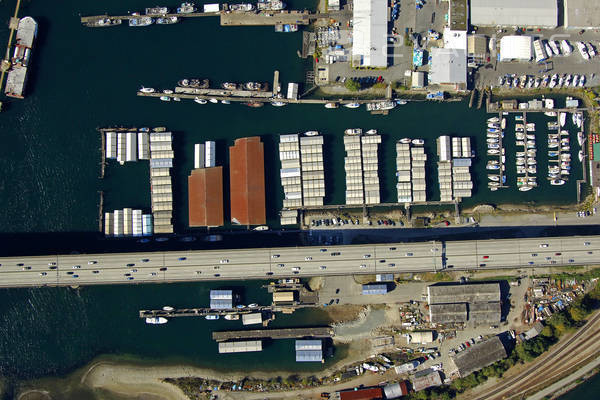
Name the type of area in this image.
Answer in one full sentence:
What you see here is a port.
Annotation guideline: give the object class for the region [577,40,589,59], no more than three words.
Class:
boat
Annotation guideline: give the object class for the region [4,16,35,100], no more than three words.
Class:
ship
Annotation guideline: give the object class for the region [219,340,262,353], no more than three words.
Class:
building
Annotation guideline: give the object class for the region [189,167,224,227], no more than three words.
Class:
shed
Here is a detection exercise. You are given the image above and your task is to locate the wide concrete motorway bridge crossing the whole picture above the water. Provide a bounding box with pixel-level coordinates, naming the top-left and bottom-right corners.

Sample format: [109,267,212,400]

[0,235,600,289]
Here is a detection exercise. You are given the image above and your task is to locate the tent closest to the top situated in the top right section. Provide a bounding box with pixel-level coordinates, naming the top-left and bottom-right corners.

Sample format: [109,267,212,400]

[500,36,532,61]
